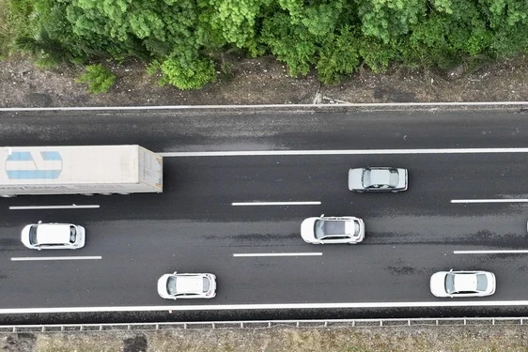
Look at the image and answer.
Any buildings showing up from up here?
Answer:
No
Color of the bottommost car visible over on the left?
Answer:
white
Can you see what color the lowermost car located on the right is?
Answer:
white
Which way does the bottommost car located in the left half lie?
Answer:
from side to side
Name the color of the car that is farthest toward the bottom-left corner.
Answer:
white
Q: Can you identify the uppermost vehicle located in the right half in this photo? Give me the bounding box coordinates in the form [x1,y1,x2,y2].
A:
[347,163,409,194]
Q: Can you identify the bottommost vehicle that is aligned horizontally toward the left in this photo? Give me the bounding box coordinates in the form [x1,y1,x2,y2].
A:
[157,270,219,300]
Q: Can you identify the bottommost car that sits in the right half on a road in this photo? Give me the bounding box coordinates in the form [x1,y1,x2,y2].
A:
[429,268,496,299]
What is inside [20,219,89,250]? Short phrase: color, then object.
white car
